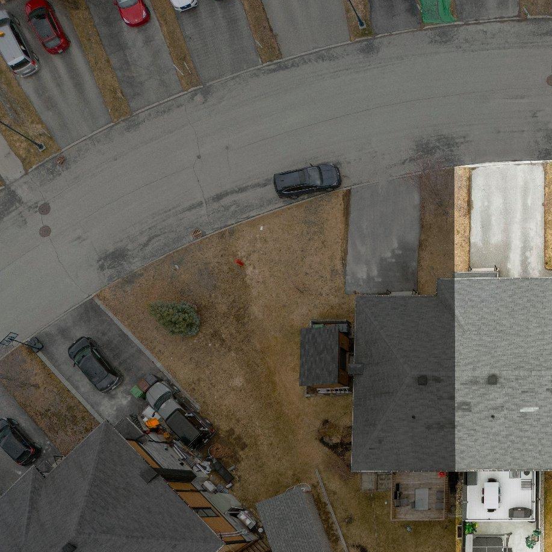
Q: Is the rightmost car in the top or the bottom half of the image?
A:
top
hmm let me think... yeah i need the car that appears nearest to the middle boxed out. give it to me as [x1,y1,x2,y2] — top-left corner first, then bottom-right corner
[273,159,345,201]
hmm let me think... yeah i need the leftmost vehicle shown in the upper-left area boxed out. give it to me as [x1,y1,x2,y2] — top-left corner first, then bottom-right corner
[0,6,44,81]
